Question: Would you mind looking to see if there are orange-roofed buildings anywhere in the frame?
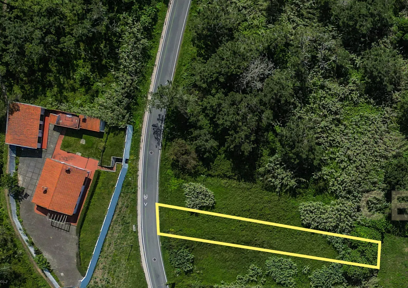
Yes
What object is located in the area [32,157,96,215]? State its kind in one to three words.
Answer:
house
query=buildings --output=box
[32,157,96,215]
[4,101,54,151]
[49,113,109,133]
